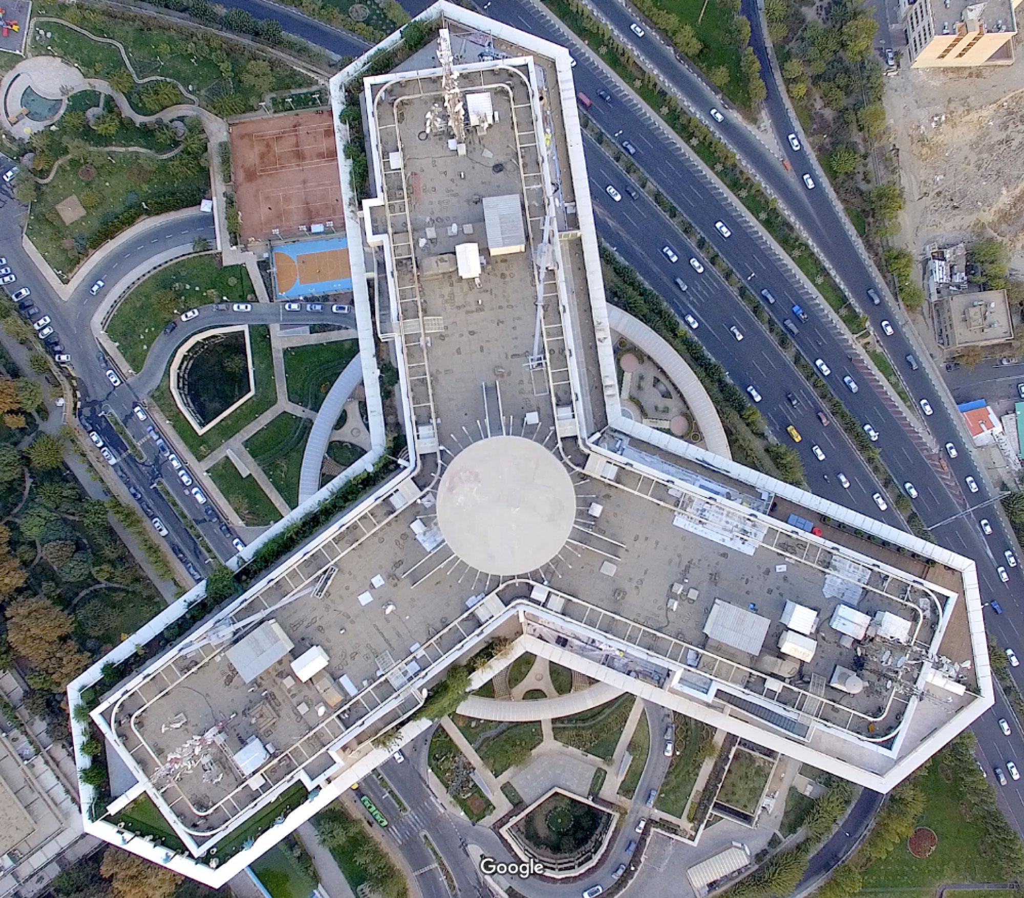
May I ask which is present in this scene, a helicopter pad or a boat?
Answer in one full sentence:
There is a helicopter pad in the scene.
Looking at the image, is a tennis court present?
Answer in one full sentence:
Yes, a tennis court can be made out from above.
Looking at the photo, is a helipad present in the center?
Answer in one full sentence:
Yes, the scene does show a helipad in the center.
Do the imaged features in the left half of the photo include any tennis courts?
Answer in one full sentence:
Yes, looking in the left half of the photo, one can make out a tennis court.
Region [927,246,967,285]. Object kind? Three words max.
shed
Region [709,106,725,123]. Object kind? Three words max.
car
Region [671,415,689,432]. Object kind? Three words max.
umbrella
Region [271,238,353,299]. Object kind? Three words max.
basketball court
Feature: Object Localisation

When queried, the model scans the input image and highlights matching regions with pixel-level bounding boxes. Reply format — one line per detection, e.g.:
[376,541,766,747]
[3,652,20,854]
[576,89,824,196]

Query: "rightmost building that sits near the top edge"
[905,0,1016,64]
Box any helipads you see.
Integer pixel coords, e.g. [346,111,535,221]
[437,436,577,576]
